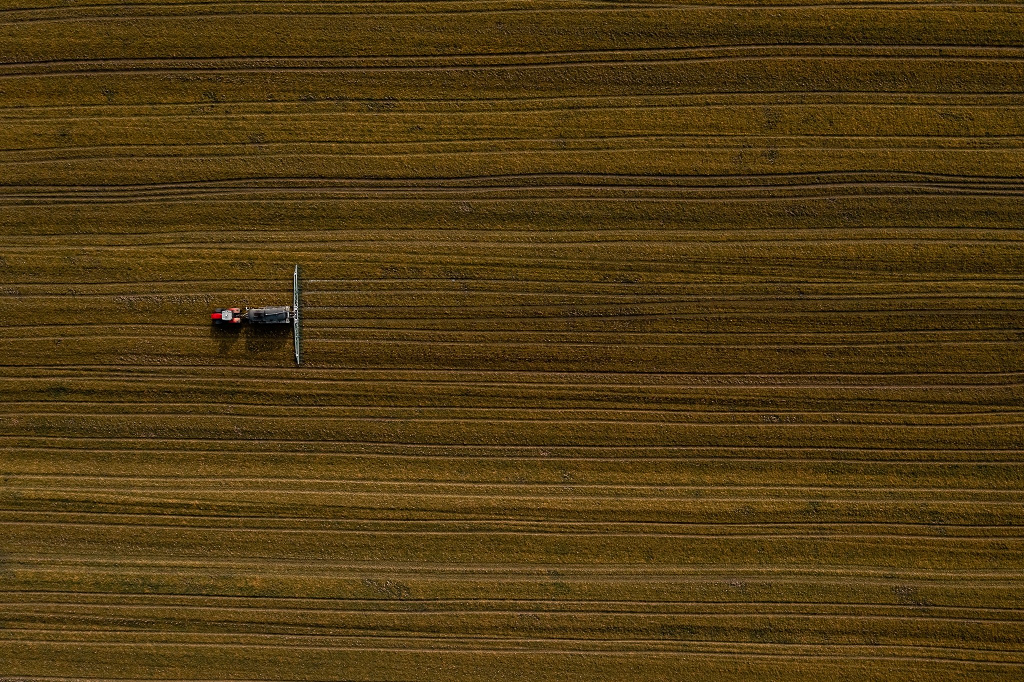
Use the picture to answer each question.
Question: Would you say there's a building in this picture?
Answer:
No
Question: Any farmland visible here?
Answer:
Yes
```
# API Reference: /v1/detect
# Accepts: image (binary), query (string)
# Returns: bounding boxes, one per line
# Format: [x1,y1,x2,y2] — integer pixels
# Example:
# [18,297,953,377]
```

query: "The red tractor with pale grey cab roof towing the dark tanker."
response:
[211,308,247,324]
